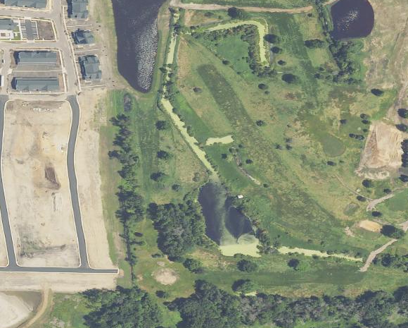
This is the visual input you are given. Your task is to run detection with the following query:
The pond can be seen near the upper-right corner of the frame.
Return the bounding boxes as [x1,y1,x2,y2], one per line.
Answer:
[331,0,375,40]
